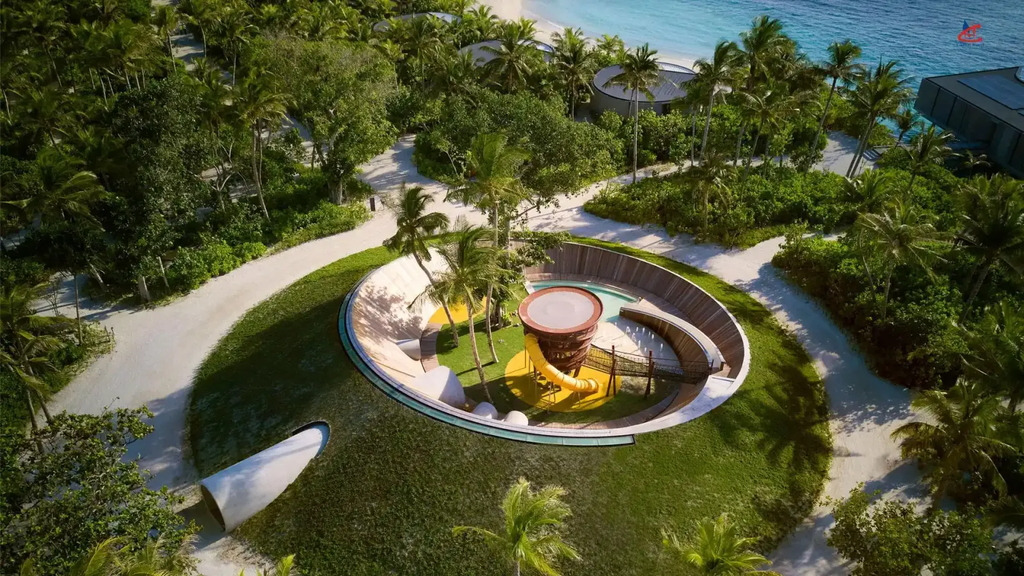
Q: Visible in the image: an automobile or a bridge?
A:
bridge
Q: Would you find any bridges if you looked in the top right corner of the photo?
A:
No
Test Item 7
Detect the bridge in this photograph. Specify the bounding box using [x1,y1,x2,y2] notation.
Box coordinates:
[584,337,717,400]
